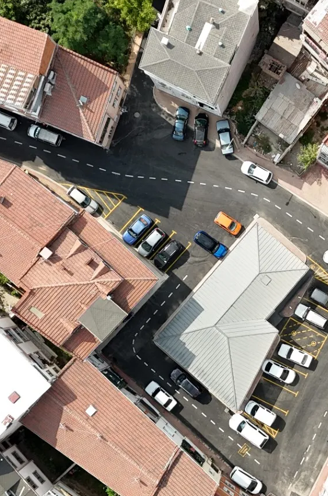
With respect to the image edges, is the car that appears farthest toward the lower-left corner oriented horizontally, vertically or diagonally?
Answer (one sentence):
The car that appears farthest toward the lower-left corner is laid out diagonally.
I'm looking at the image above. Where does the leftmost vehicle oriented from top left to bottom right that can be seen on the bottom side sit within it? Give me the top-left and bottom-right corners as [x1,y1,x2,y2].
[145,378,178,413]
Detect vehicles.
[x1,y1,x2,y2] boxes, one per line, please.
[217,119,235,156]
[293,302,328,330]
[192,229,229,259]
[26,123,64,148]
[229,413,270,448]
[136,226,167,258]
[211,209,246,237]
[242,399,279,428]
[169,366,203,401]
[154,237,186,271]
[277,343,314,368]
[171,105,190,143]
[306,286,328,312]
[240,160,275,185]
[228,465,265,494]
[260,360,299,385]
[0,111,19,132]
[123,211,155,247]
[145,378,178,413]
[66,186,101,216]
[192,111,209,149]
